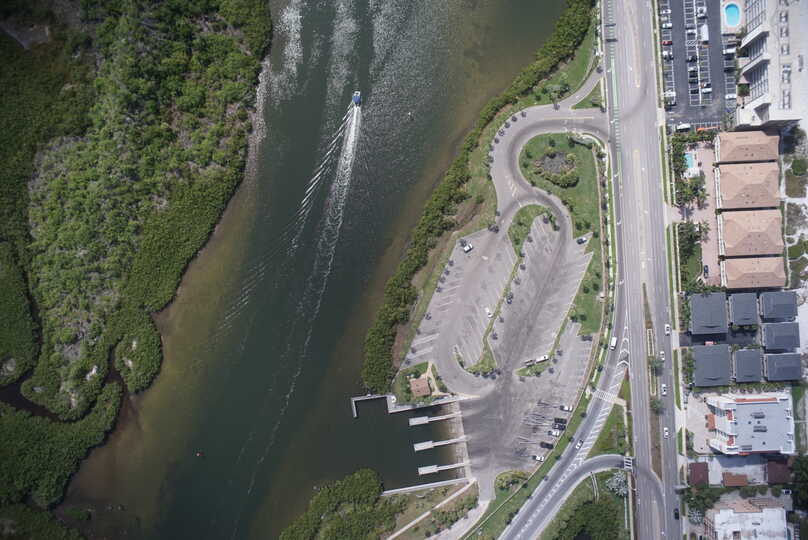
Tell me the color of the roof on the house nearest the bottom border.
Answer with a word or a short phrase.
white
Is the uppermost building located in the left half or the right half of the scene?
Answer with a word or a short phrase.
right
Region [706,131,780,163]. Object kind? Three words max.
house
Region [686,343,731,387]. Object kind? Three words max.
house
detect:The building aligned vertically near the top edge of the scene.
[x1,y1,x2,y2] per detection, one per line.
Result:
[735,0,802,131]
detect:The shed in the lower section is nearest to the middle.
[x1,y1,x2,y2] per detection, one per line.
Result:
[410,377,430,398]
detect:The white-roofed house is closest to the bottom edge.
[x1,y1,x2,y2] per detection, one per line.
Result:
[701,499,787,540]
